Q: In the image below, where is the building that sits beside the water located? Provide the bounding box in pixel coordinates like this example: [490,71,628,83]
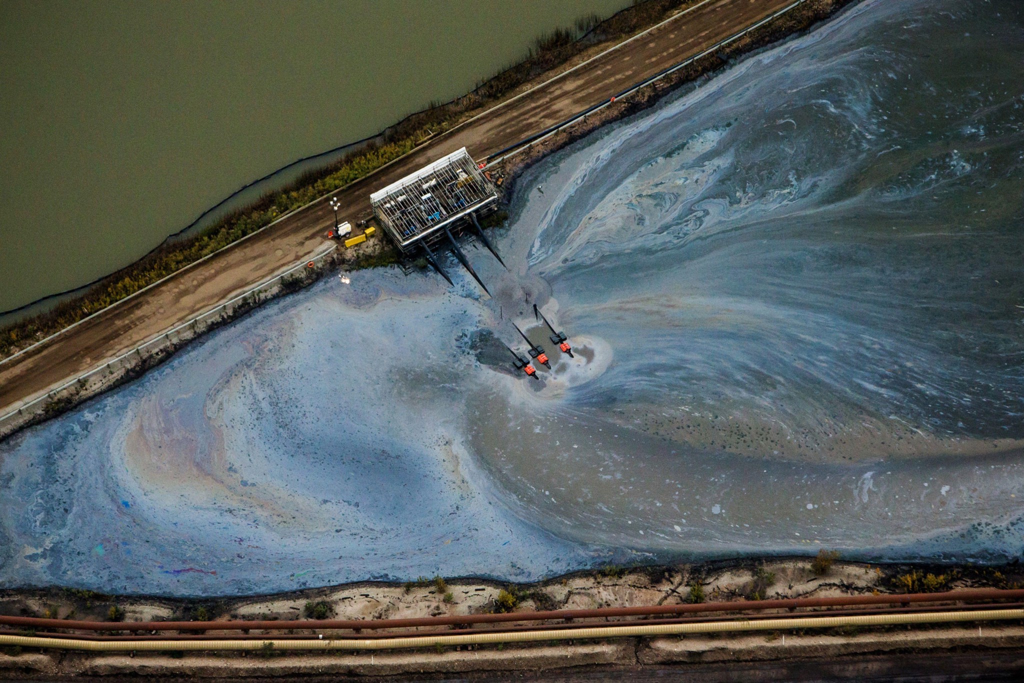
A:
[370,150,506,265]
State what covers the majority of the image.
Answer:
water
